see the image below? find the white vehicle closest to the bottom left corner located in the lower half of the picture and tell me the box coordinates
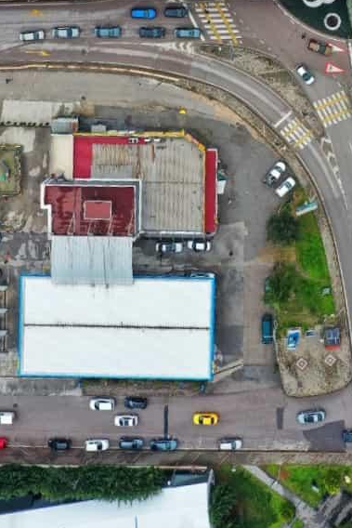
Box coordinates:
[0,407,17,422]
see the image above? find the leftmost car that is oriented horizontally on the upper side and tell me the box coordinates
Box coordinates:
[20,29,45,42]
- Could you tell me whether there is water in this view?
No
